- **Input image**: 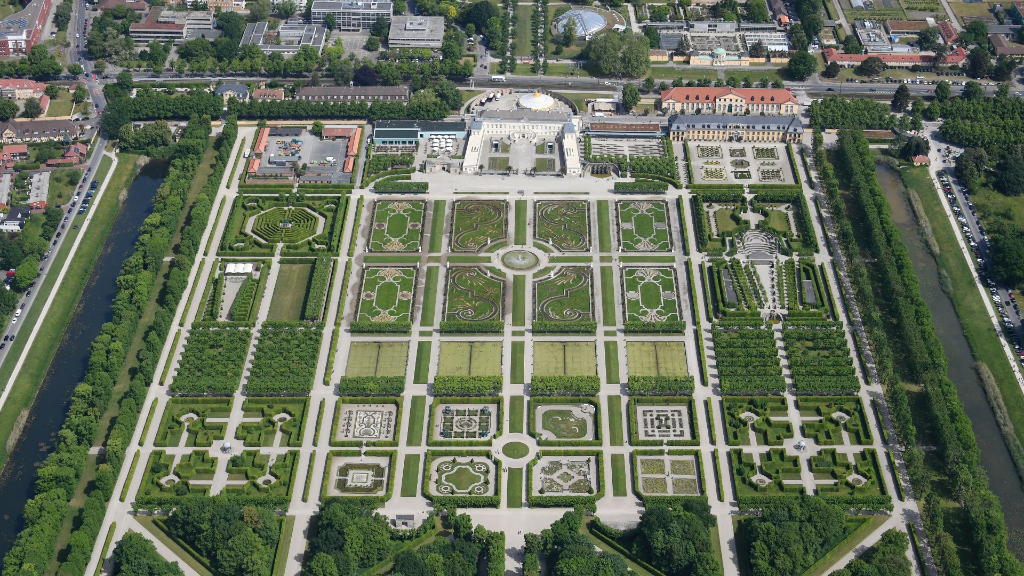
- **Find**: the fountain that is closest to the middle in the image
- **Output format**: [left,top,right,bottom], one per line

[501,249,538,269]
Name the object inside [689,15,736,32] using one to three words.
greenhouse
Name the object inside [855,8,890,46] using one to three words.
building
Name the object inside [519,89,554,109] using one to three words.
tent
